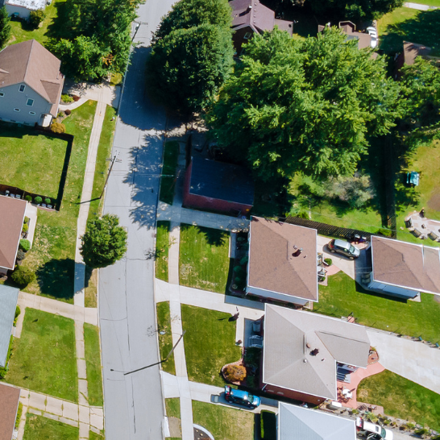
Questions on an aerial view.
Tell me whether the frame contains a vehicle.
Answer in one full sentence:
Yes, a vehicle is visible in the scene.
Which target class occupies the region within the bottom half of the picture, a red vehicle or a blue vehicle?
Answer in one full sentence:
What appears within the bottom half of the picture is a blue vehicle.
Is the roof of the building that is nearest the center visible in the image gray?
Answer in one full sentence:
No, the color of the roof of the building that is nearest the center is black.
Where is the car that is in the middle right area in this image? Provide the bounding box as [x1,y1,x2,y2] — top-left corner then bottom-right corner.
[328,234,362,257]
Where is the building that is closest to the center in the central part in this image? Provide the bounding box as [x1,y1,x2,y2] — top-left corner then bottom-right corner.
[184,156,257,217]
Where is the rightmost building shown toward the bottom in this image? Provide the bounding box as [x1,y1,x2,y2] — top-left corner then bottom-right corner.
[366,235,440,304]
